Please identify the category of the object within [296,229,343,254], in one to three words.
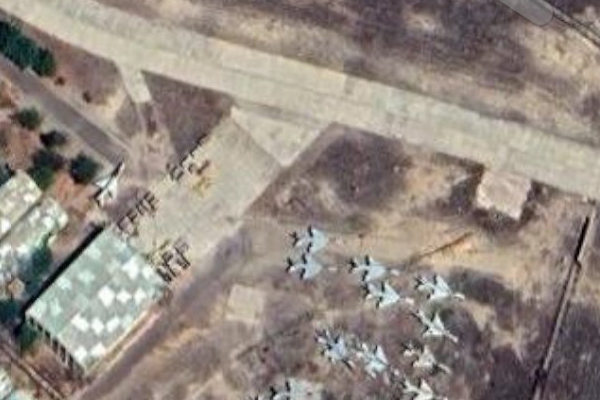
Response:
airplane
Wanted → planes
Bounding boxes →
[356,344,394,380]
[405,344,450,372]
[414,308,455,340]
[291,256,338,280]
[273,384,319,400]
[417,277,464,300]
[91,162,124,203]
[353,258,399,282]
[318,331,353,371]
[367,283,413,307]
[400,380,446,400]
[296,229,343,254]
